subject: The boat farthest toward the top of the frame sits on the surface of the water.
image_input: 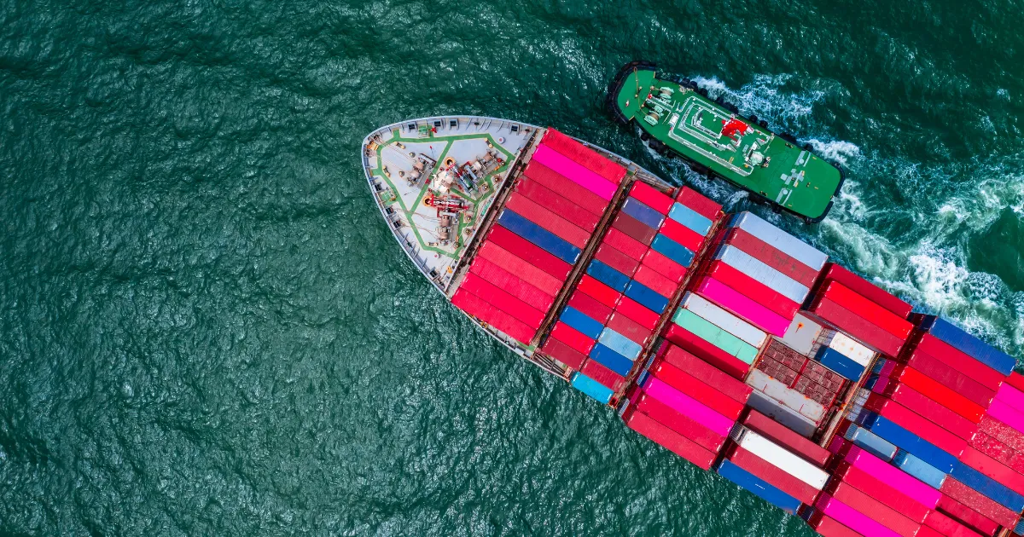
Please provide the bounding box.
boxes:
[605,58,846,227]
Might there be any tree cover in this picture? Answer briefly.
No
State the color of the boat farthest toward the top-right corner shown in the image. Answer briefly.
green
